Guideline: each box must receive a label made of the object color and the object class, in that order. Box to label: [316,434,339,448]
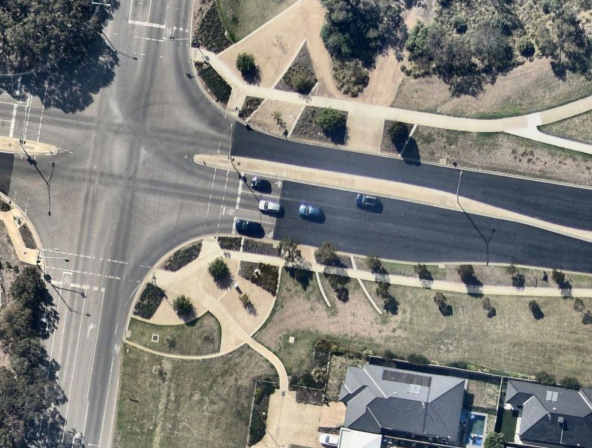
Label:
white vehicle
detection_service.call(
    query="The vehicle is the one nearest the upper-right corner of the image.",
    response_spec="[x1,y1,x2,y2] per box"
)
[354,193,381,209]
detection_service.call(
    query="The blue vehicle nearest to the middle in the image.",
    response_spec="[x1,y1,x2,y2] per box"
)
[299,204,325,218]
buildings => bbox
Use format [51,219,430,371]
[339,364,466,446]
[505,380,592,448]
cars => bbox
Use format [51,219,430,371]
[316,434,339,448]
[235,219,264,234]
[251,177,273,190]
[354,193,381,209]
[299,204,325,218]
[258,199,284,213]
